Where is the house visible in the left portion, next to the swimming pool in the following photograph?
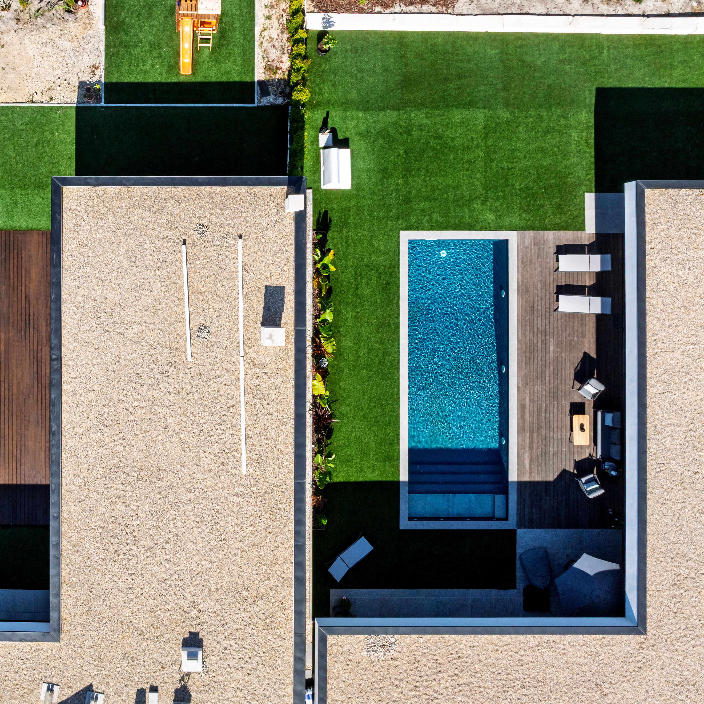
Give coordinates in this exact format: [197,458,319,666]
[0,176,306,704]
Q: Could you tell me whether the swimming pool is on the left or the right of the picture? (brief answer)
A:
right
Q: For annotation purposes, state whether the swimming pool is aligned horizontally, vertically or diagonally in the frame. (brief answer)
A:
vertically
